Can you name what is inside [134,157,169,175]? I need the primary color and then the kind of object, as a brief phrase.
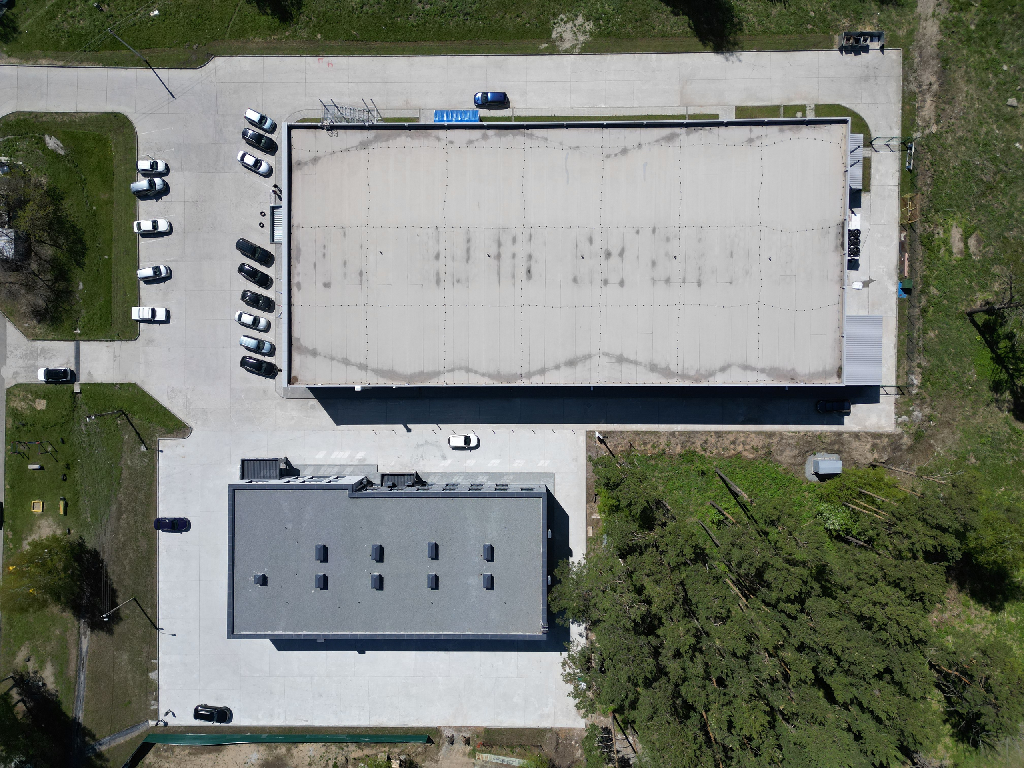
white car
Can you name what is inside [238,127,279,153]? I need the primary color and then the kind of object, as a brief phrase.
black car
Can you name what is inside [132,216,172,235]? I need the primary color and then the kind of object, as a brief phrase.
white car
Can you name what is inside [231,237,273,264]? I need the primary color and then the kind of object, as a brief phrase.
black car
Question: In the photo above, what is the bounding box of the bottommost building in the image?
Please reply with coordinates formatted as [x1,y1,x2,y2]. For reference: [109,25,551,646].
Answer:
[228,476,551,642]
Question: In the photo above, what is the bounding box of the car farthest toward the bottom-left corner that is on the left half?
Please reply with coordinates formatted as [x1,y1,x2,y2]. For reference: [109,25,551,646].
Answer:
[191,703,232,727]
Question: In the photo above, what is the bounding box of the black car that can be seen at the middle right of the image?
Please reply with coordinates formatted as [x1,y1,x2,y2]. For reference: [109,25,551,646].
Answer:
[814,397,854,415]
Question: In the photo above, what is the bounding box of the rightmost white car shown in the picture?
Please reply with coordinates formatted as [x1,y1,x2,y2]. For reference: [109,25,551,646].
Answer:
[446,432,479,449]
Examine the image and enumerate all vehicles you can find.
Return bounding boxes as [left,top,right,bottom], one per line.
[132,216,172,235]
[237,289,275,311]
[134,157,169,175]
[234,262,273,288]
[233,310,271,331]
[238,127,279,153]
[231,237,273,264]
[446,432,479,449]
[237,335,275,355]
[131,306,169,322]
[237,355,280,378]
[36,365,72,383]
[126,175,169,198]
[134,263,172,282]
[152,515,191,533]
[191,703,232,727]
[241,106,278,133]
[474,88,508,107]
[235,150,273,177]
[814,397,854,415]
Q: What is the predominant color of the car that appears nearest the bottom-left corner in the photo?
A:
black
